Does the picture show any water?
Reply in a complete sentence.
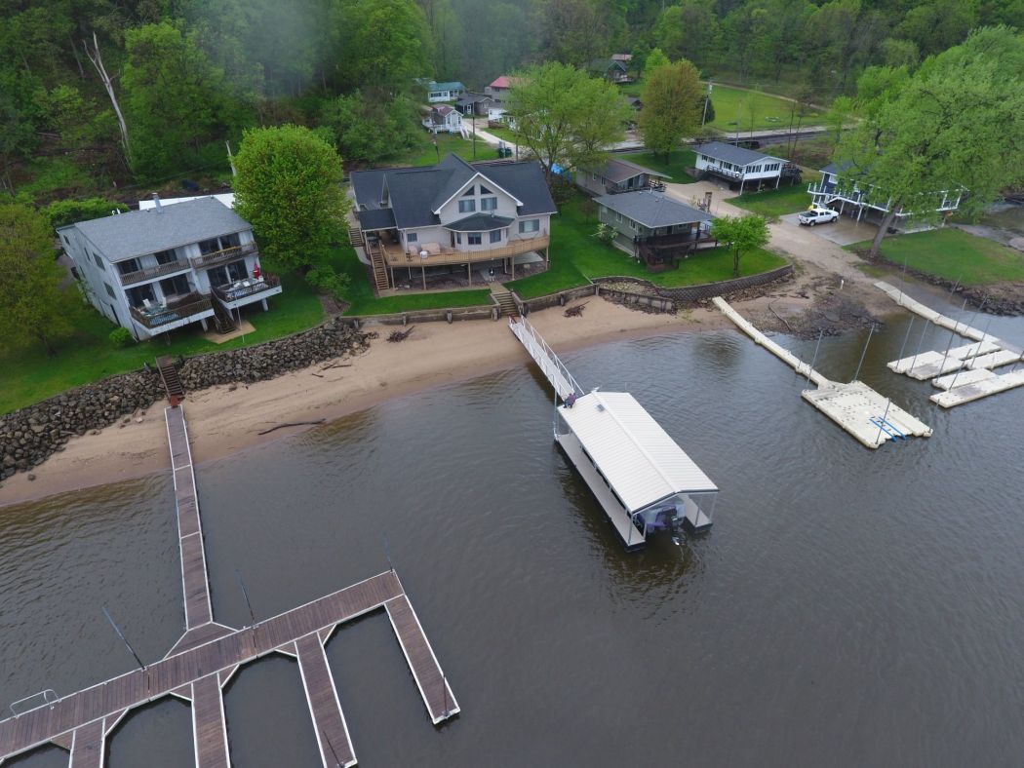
Yes, there's water in this view.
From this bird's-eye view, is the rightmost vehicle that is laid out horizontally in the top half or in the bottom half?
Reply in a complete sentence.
It is in the top half that the rightmost vehicle that is laid out horizontally appears.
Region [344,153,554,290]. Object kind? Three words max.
house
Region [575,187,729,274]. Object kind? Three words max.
house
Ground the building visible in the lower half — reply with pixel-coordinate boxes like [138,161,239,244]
[554,382,722,552]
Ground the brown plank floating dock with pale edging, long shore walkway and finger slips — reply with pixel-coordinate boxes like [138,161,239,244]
[0,405,459,768]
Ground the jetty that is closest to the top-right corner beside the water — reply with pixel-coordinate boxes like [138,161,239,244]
[877,285,1024,366]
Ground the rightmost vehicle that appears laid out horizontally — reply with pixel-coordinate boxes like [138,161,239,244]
[794,206,837,226]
